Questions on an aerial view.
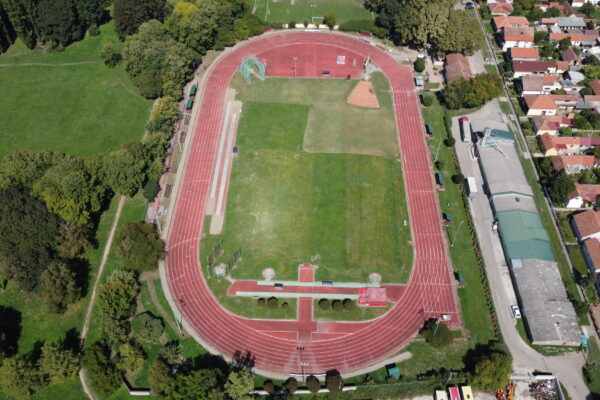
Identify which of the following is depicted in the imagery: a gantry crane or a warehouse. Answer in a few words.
warehouse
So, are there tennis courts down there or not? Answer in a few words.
No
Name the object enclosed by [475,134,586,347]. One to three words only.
warehouse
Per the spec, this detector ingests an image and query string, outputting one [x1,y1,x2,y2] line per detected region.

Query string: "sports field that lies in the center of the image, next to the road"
[198,51,414,322]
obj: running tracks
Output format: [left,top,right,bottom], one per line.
[159,30,468,383]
